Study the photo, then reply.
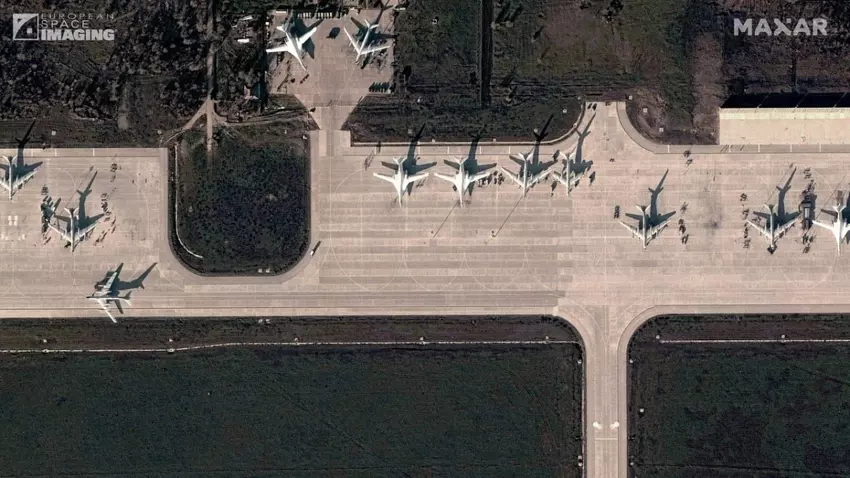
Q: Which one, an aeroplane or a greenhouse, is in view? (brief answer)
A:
aeroplane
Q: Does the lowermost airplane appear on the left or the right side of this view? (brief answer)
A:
left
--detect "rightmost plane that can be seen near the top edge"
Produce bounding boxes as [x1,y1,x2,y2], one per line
[344,20,390,66]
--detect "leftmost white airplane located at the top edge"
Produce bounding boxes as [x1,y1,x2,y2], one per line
[266,22,316,70]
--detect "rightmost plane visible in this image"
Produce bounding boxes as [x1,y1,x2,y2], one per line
[813,202,850,255]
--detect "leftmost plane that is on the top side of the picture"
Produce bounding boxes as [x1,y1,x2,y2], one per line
[0,153,36,202]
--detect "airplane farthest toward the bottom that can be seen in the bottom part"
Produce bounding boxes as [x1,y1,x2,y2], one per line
[87,273,134,323]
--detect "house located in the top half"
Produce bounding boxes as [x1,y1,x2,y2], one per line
[244,79,260,99]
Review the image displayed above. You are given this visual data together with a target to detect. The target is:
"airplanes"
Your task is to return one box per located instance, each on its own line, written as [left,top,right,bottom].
[0,153,36,202]
[501,151,551,198]
[620,202,670,250]
[344,20,390,66]
[554,149,583,195]
[813,202,850,255]
[748,202,799,250]
[48,205,98,252]
[87,273,134,323]
[266,22,316,70]
[374,156,428,207]
[434,154,490,207]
